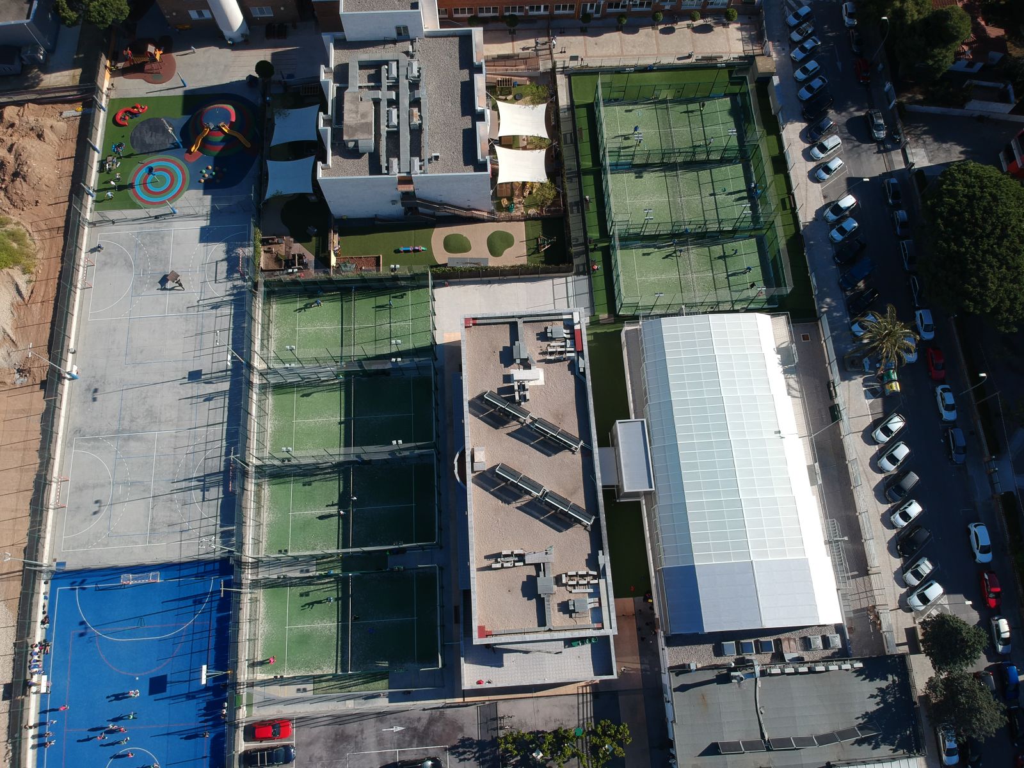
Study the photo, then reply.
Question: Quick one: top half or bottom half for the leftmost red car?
bottom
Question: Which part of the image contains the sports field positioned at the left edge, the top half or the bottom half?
bottom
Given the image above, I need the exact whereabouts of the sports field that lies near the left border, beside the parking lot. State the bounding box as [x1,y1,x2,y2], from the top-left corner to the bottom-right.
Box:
[30,556,242,768]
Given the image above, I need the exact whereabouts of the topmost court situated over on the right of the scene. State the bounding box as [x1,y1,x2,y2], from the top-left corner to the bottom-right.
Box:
[593,66,764,165]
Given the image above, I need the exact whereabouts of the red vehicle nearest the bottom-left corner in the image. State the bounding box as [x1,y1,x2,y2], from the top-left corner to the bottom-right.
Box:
[249,718,295,741]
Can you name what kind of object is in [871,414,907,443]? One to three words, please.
car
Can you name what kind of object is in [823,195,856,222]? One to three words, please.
car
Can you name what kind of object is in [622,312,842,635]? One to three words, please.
building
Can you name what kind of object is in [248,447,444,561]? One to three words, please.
sports court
